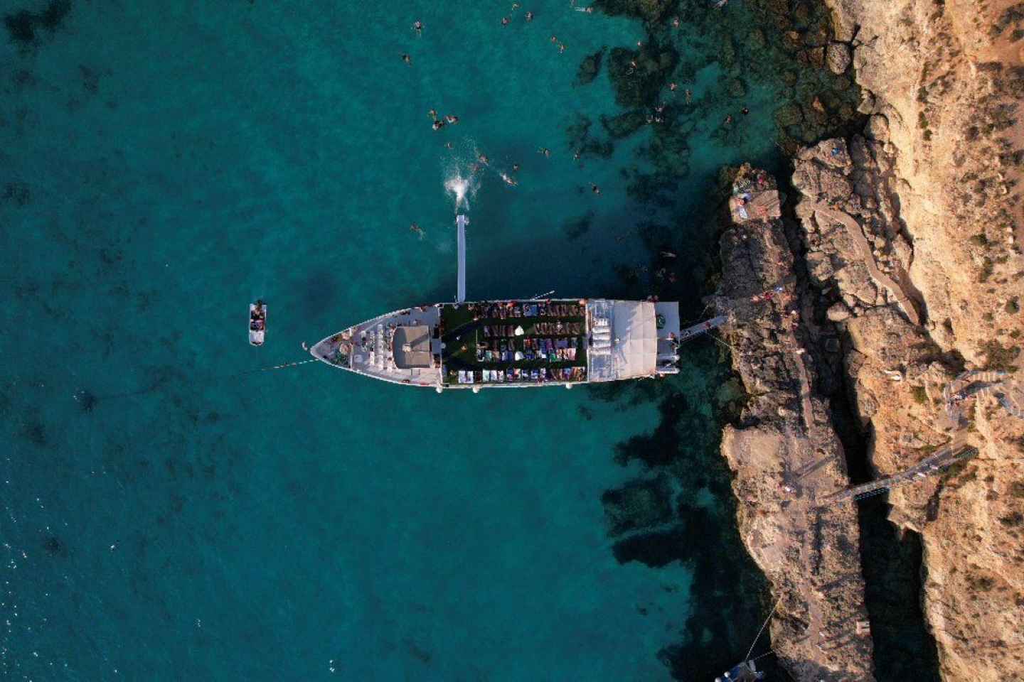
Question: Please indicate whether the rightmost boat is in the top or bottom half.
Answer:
bottom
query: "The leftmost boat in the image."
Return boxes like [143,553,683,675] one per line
[247,300,266,349]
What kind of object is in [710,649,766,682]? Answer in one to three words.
boat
